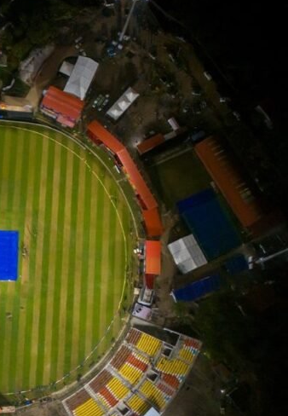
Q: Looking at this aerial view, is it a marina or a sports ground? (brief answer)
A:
sports ground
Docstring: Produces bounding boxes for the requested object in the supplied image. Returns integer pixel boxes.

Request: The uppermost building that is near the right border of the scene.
[194,129,280,229]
